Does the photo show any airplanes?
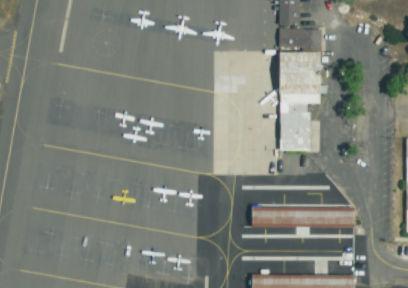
Yes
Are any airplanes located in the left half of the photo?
Yes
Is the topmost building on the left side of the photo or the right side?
right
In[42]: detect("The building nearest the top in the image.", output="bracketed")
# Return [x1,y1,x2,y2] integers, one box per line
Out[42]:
[280,0,300,26]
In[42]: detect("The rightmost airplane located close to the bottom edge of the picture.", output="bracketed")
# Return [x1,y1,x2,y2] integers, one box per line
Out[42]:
[166,256,192,274]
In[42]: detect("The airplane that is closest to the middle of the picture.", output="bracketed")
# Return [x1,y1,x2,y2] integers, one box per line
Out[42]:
[192,128,210,144]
